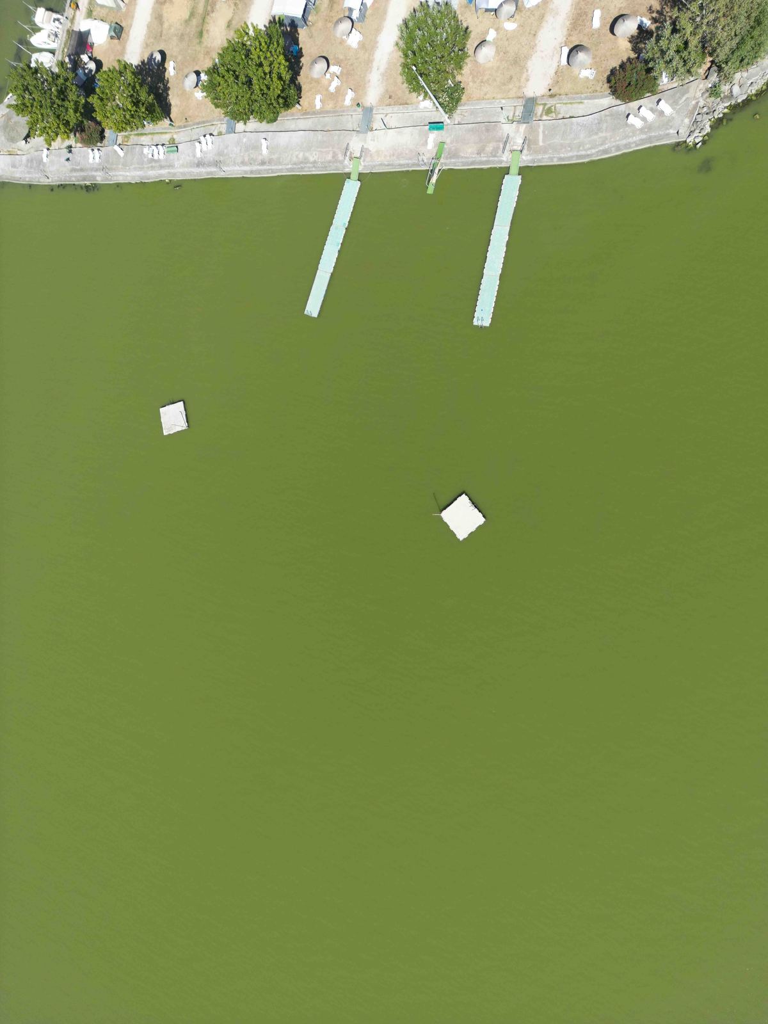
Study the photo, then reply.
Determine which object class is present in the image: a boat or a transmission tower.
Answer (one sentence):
There is a boat in the scene.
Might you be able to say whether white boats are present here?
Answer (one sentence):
Yes, you can see a white boat in this photo.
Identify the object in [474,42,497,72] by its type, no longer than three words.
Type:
umbrella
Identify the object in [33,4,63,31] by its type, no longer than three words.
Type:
boat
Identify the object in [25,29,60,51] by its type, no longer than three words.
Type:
boat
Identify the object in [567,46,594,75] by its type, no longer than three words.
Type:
umbrella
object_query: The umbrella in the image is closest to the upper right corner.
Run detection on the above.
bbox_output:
[612,15,640,51]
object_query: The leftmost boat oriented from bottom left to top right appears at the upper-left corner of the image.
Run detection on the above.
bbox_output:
[1,83,19,103]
